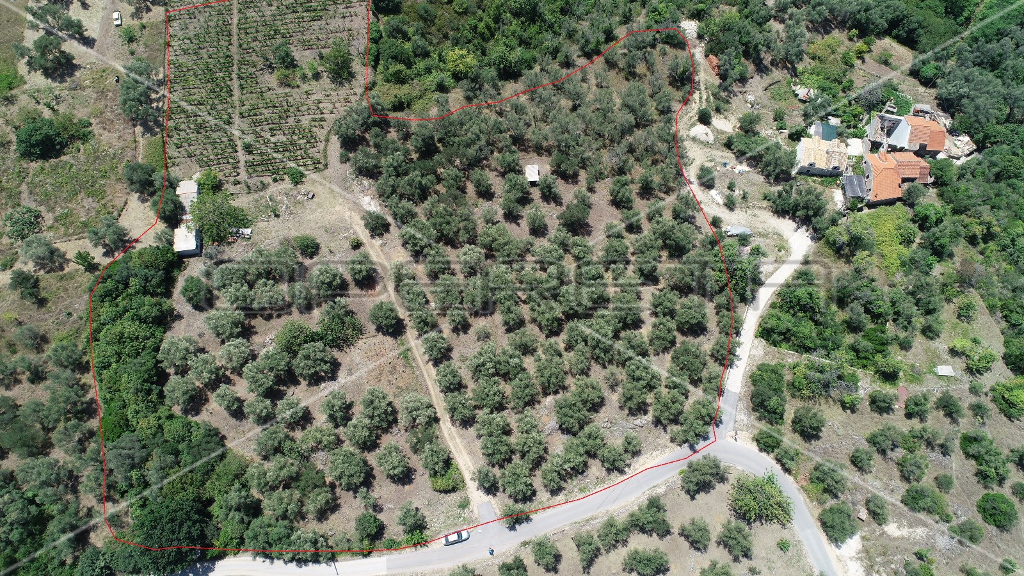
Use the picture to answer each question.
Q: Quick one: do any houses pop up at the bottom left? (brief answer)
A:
No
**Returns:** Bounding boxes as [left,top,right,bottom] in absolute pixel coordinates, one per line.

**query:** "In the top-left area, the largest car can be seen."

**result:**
[109,8,121,25]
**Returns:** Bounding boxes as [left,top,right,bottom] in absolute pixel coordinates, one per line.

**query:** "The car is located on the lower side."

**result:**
[442,530,470,547]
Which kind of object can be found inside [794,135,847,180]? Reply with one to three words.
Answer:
house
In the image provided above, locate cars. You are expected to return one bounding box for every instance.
[109,8,121,25]
[442,530,470,547]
